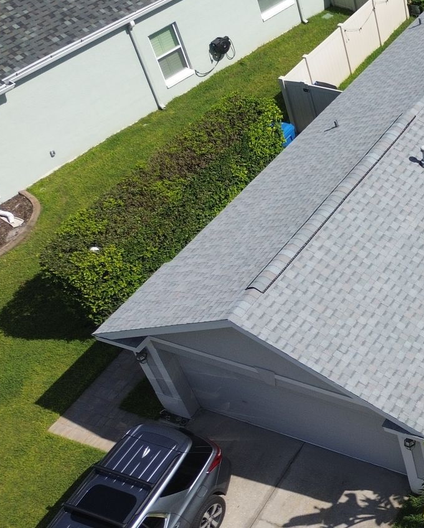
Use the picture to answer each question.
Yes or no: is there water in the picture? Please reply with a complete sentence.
No, the picture contains no water.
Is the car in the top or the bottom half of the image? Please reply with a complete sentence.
It is in the bottom half that the car appears.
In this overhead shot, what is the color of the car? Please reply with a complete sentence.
The car is black.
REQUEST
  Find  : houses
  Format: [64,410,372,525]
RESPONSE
[0,0,329,203]
[96,9,424,498]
